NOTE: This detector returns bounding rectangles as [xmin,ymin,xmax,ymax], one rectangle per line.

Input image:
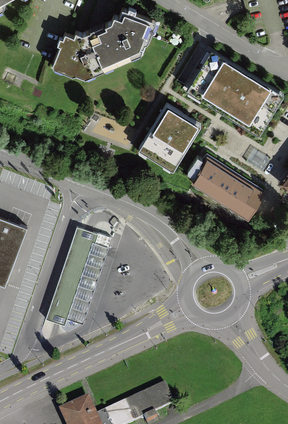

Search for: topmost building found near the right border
[187,50,284,137]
